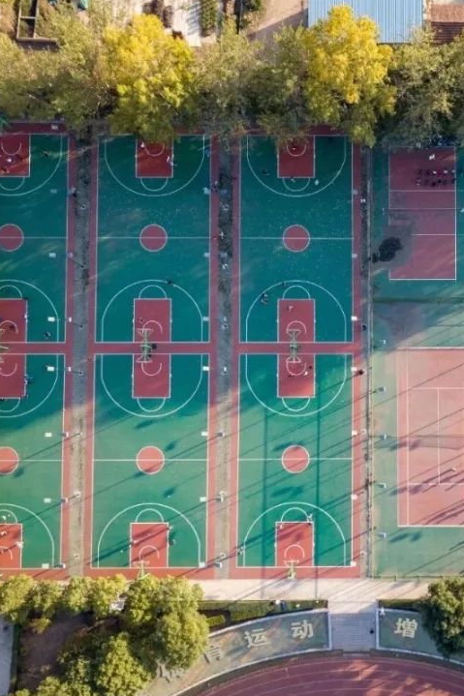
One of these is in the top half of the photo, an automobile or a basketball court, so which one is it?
basketball court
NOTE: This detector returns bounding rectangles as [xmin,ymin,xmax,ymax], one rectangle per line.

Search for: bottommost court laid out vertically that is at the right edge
[398,346,464,527]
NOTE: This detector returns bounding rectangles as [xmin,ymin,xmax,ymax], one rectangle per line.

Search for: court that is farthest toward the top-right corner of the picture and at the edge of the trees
[375,146,457,279]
